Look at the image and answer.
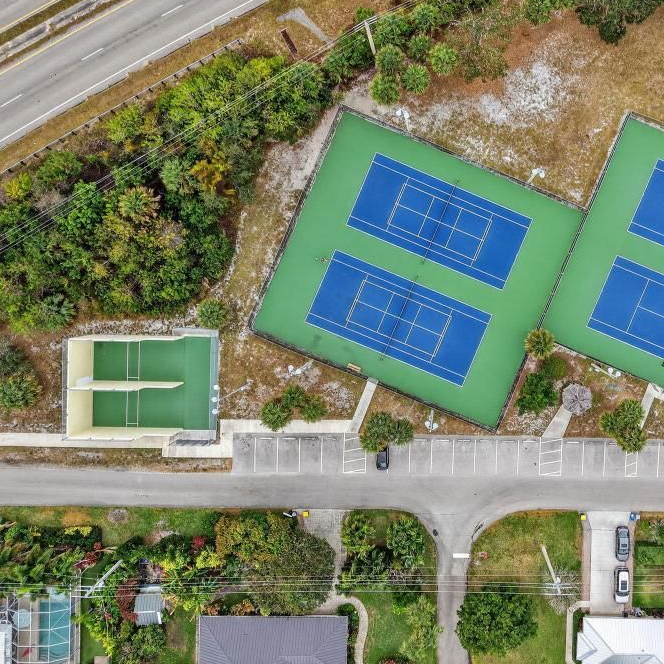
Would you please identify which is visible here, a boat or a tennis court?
tennis court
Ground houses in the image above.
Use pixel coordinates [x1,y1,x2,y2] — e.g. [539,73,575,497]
[583,613,664,664]
[198,612,348,664]
[0,624,13,664]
